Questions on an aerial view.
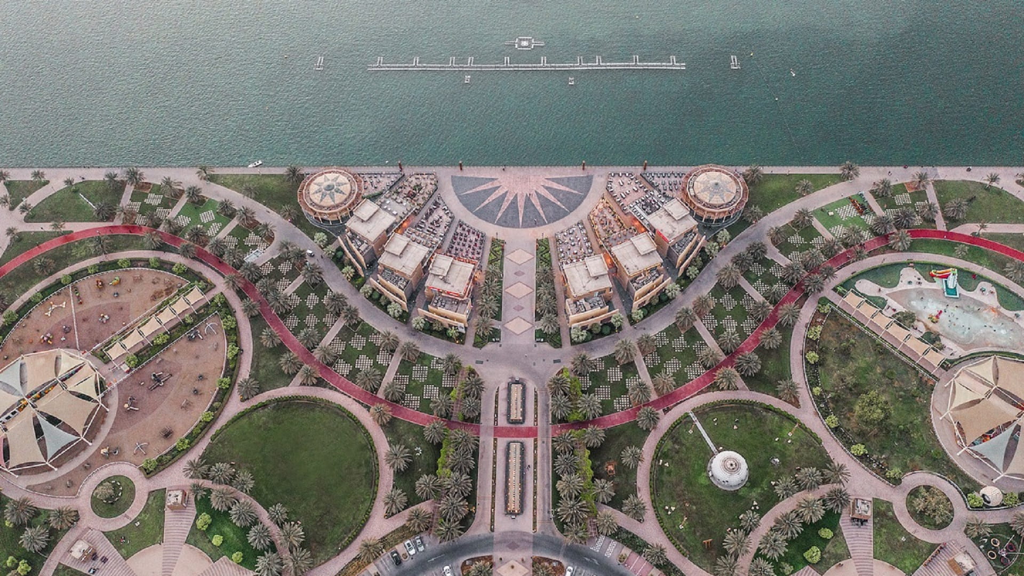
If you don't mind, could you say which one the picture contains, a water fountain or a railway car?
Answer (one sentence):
It is a water fountain that can be seen here.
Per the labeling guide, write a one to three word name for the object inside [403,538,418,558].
car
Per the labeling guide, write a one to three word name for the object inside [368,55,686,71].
pier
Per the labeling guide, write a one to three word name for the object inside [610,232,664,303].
building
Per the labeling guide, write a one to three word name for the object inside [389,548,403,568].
car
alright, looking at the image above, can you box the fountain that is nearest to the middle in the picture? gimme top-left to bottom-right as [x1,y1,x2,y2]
[507,381,526,423]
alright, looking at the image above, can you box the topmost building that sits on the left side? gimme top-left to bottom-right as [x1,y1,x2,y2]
[298,166,365,230]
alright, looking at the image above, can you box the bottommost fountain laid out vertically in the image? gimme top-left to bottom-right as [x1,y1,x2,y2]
[504,441,524,513]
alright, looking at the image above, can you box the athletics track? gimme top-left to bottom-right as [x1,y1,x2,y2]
[0,224,1024,438]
